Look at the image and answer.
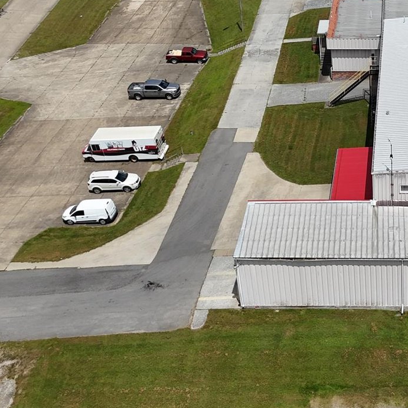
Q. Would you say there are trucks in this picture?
Yes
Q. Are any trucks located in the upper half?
Yes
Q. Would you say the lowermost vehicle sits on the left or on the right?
left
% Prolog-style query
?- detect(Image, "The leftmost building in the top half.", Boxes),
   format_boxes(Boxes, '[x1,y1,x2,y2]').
[315,0,382,78]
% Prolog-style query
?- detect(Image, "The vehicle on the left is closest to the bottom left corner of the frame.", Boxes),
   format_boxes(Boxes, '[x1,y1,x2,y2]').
[58,195,118,222]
